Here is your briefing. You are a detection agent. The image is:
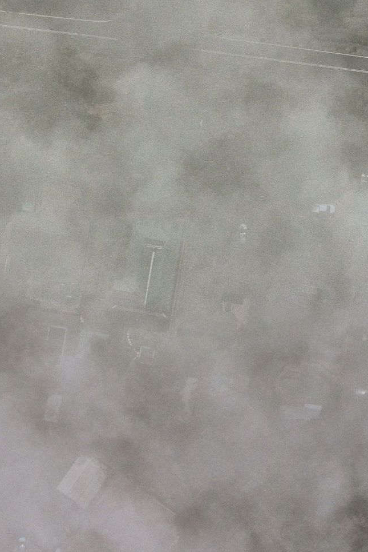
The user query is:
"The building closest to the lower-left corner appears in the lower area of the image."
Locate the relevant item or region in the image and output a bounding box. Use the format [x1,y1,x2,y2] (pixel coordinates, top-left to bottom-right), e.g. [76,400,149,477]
[56,454,106,510]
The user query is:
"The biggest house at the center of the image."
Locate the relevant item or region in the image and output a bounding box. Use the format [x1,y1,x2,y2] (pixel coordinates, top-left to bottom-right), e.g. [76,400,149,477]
[110,226,182,311]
